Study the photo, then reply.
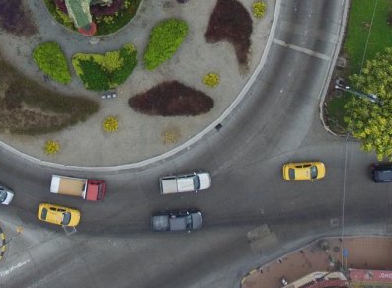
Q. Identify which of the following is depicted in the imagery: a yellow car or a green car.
yellow car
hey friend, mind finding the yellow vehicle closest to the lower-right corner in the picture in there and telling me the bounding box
[281,160,327,182]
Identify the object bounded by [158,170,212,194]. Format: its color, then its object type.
white truck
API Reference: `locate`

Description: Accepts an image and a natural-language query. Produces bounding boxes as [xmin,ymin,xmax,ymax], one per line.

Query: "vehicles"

[49,173,108,202]
[281,160,327,182]
[36,200,83,232]
[151,209,204,232]
[0,184,20,208]
[158,170,212,194]
[370,162,392,182]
